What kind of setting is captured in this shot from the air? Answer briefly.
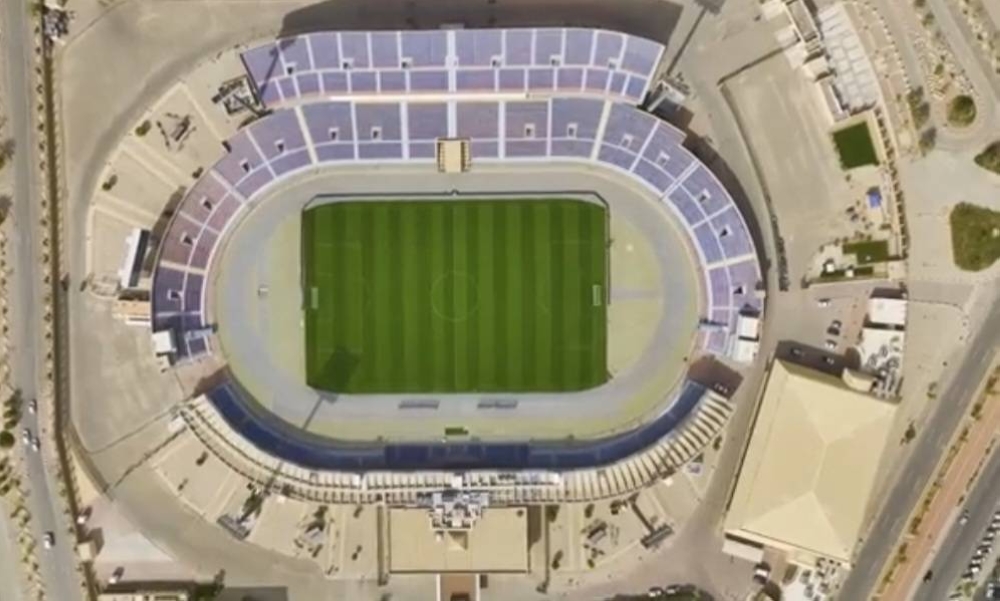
sports ground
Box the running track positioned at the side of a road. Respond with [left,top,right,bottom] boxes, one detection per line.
[201,157,712,448]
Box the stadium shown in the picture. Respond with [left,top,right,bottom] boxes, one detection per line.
[151,21,764,505]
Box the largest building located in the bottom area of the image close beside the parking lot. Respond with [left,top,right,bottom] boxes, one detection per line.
[720,351,900,569]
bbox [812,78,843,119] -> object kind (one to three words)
building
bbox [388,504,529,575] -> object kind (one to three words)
building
